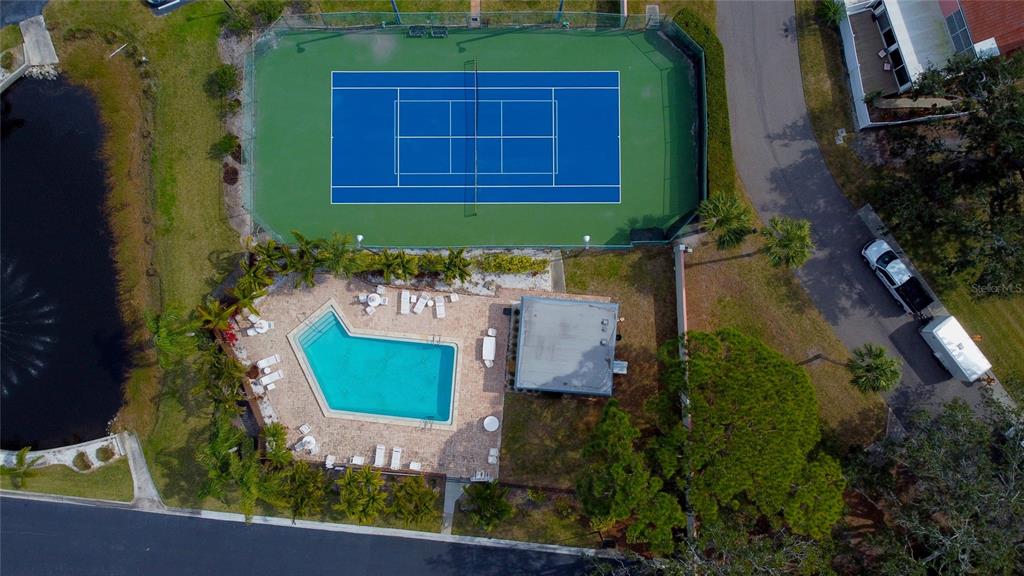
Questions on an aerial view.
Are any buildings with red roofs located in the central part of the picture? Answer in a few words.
No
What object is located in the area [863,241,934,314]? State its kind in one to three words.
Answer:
truck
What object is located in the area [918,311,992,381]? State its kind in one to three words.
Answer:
trailer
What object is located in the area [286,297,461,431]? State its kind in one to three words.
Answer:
swimming pool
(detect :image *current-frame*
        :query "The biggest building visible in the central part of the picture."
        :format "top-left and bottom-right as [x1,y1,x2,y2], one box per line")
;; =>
[505,296,629,399]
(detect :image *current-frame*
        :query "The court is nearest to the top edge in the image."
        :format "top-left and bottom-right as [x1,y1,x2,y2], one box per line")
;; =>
[256,30,697,247]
